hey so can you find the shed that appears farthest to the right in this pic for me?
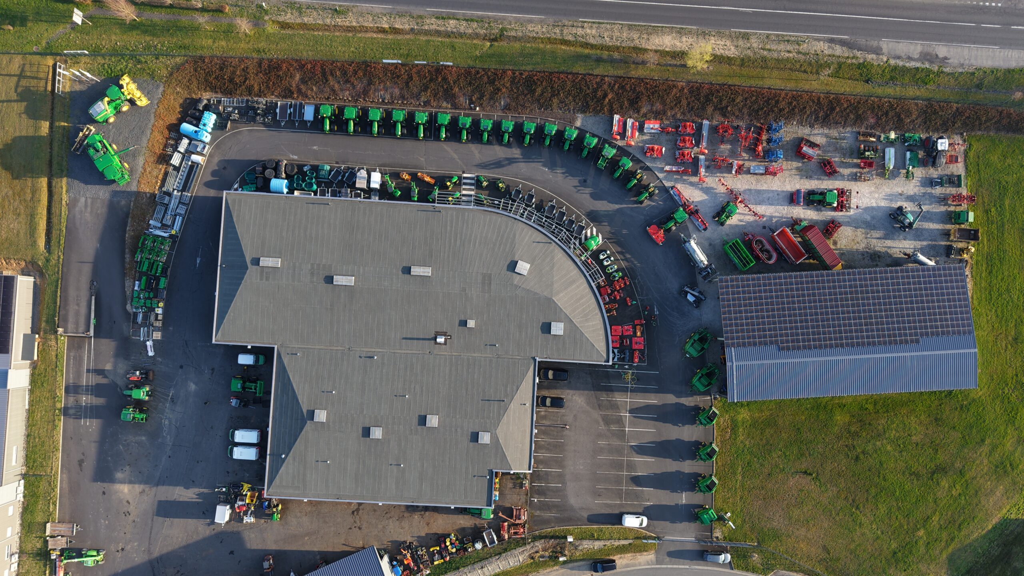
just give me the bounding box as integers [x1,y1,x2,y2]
[711,263,978,402]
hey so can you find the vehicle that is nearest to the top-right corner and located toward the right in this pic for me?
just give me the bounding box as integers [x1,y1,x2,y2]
[922,136,950,172]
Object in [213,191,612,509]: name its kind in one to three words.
building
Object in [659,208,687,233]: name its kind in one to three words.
work vehicle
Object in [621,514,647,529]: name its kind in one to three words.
vehicle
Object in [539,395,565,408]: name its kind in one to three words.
vehicle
